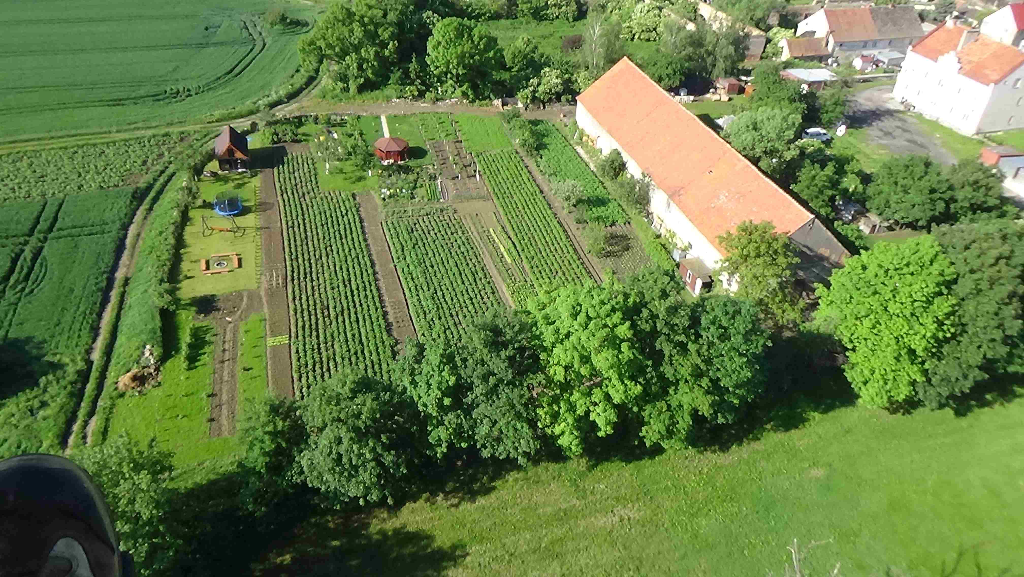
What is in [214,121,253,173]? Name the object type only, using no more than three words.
house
